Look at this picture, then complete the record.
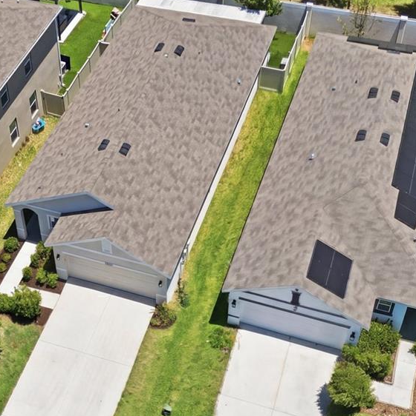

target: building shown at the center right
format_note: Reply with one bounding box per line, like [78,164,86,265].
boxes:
[221,32,416,355]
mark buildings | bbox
[6,5,280,308]
[221,32,416,355]
[0,0,67,173]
